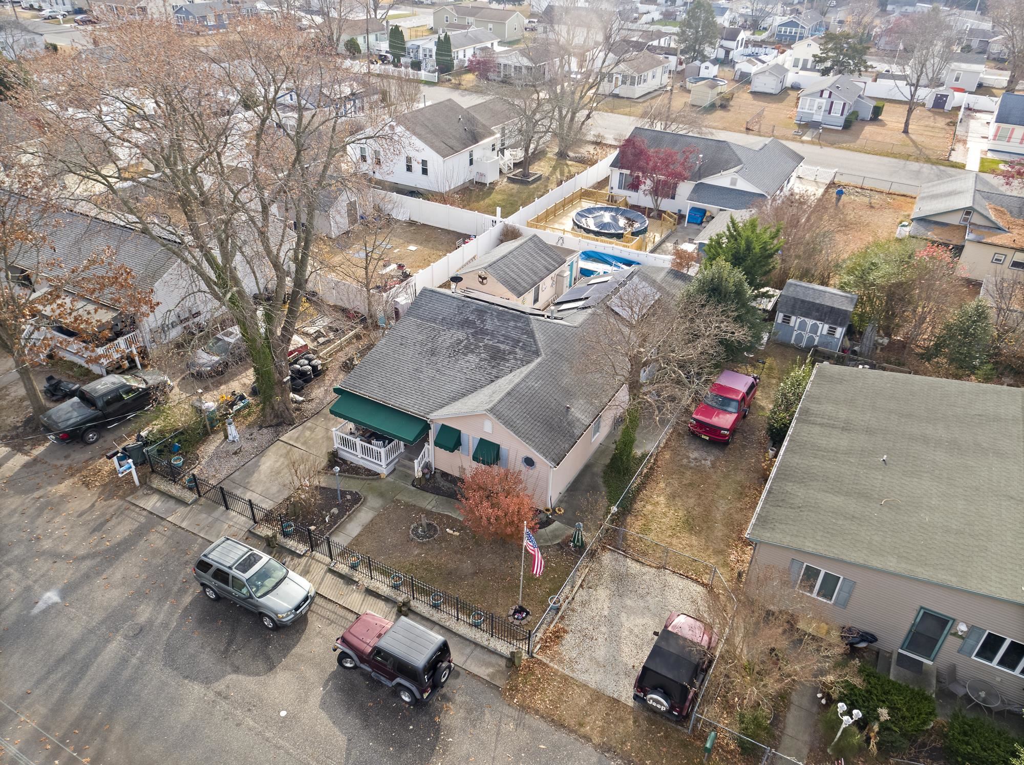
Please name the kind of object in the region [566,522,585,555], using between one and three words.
lighthouse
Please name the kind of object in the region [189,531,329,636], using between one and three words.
car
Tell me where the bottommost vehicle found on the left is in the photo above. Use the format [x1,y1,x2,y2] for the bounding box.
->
[327,603,461,708]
